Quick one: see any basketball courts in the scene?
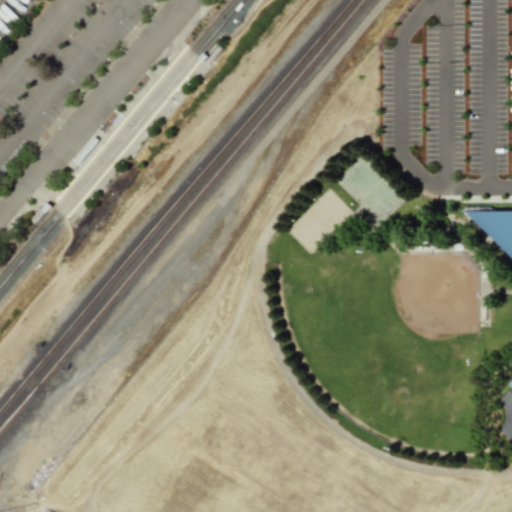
Yes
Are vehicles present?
Yes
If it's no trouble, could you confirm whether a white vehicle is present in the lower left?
No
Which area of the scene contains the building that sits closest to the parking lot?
right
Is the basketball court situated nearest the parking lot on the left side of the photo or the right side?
right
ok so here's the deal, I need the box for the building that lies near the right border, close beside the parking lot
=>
[466,210,512,258]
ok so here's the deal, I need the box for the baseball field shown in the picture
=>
[281,249,482,453]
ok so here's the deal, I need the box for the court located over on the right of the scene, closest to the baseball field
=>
[290,188,354,254]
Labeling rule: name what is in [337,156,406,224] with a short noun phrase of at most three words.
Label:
basketball court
